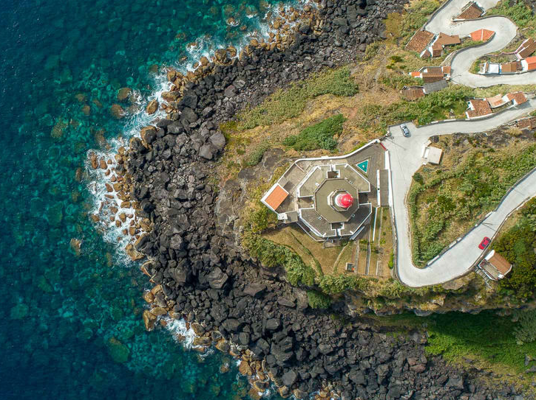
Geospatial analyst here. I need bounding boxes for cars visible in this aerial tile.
[478,237,491,250]
[400,122,410,137]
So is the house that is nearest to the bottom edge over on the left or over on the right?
right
